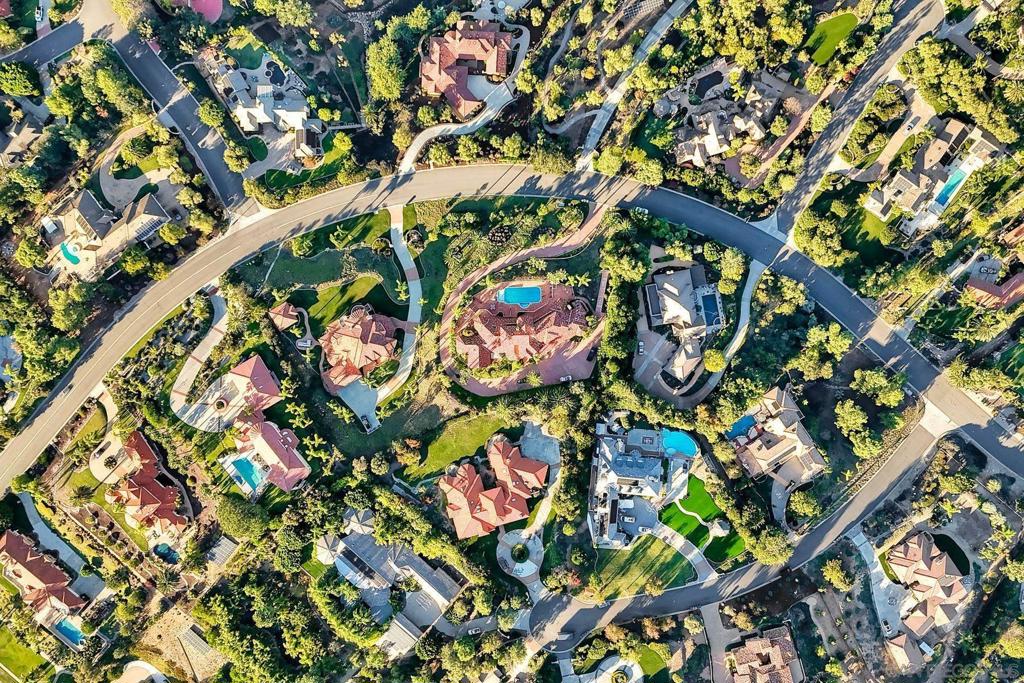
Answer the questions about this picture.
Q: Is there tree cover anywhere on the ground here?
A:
Yes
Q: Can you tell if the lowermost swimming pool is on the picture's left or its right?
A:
left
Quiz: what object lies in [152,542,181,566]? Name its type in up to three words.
swimming pool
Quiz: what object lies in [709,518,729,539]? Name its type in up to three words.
gazebo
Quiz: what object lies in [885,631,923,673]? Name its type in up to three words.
building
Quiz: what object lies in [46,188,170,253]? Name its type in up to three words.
house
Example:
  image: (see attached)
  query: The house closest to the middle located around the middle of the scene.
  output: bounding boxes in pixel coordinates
[460,300,589,368]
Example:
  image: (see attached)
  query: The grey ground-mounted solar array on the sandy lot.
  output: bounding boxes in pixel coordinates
[175,627,211,659]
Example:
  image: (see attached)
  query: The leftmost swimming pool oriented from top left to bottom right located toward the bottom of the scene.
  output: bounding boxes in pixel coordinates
[53,618,86,647]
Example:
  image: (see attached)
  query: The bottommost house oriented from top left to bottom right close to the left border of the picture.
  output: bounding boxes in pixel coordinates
[0,526,90,617]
